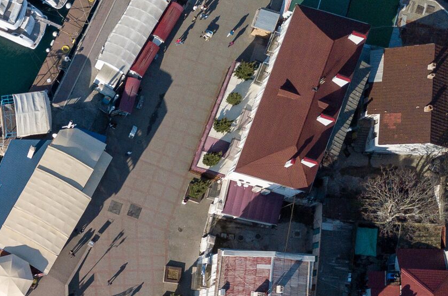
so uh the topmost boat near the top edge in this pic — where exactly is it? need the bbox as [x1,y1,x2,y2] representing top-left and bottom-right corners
[36,0,68,16]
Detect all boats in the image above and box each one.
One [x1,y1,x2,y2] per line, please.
[0,0,62,50]
[36,0,68,16]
